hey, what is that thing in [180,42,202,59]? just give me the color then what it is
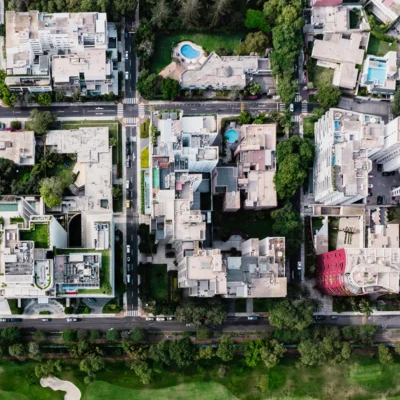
blue swimming pool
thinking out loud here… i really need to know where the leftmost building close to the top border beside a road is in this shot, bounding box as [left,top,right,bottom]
[6,9,53,94]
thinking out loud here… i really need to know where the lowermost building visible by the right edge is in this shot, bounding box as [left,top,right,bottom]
[323,248,400,296]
